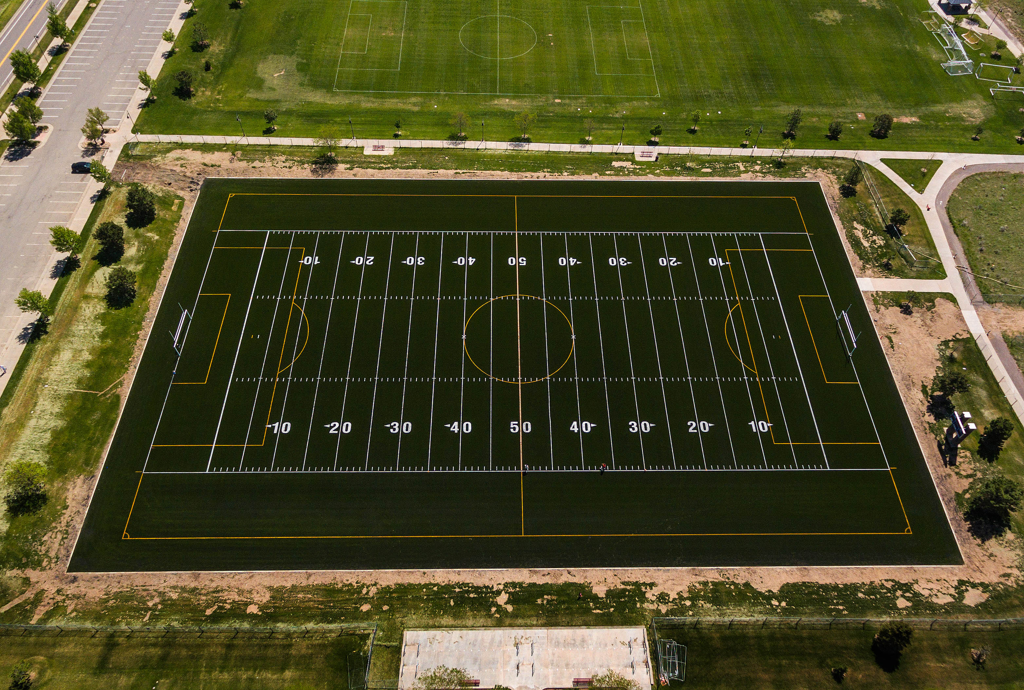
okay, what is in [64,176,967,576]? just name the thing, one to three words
sports field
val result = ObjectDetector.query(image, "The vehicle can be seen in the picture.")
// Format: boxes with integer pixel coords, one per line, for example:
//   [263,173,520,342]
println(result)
[69,160,89,172]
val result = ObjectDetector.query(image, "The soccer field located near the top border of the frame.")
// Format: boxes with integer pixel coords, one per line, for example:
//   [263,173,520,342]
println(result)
[332,0,660,97]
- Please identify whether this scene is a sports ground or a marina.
sports ground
